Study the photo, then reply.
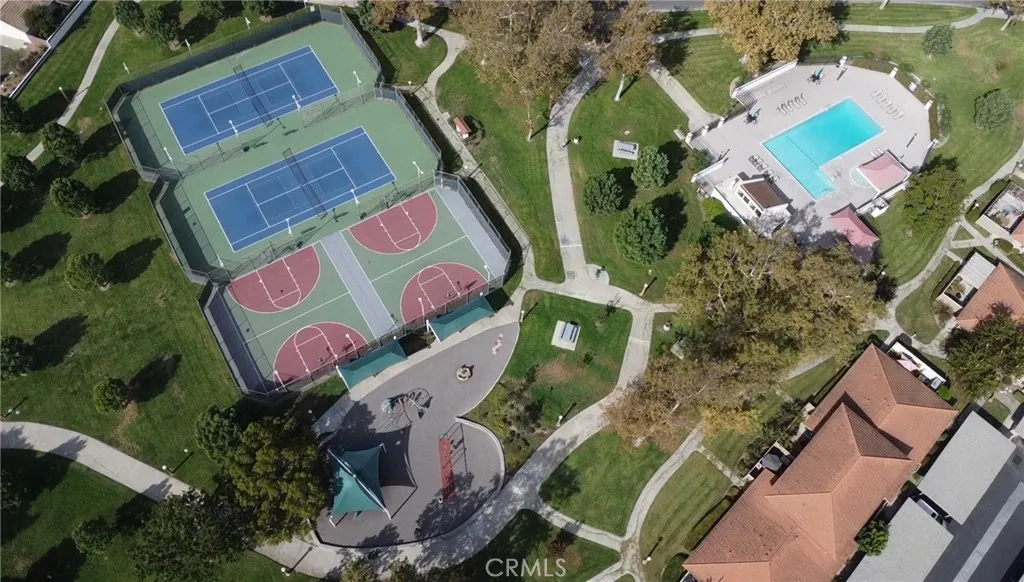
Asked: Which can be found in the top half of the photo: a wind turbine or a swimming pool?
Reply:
swimming pool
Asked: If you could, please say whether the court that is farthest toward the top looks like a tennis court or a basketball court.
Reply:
tennis court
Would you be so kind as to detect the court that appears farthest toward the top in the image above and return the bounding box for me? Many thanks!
[117,23,376,183]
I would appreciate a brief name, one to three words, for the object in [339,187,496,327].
basketball court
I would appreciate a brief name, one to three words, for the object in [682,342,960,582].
house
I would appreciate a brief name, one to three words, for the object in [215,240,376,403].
basketball court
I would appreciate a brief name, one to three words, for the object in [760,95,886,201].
swimming pool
